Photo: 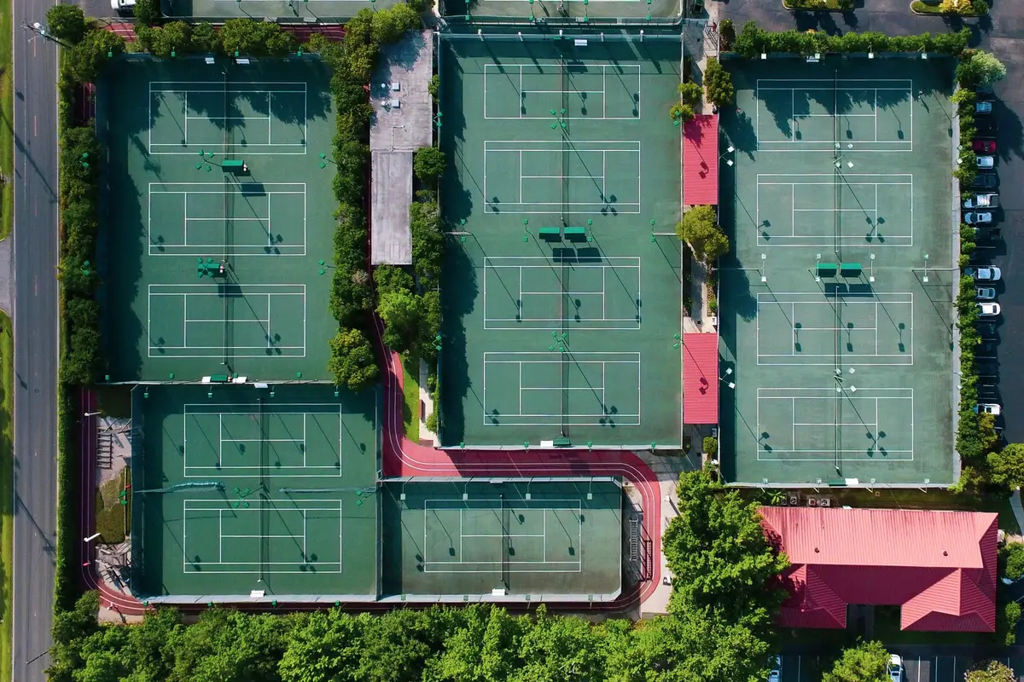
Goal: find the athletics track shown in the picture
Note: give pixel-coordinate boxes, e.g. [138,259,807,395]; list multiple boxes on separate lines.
[76,22,661,616]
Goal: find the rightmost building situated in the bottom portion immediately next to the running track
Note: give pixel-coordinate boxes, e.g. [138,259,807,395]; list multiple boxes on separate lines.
[756,507,998,636]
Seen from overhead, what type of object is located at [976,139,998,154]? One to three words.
car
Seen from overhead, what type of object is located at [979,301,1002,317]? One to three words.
car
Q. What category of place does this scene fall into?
sports ground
